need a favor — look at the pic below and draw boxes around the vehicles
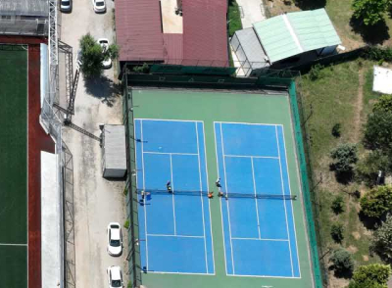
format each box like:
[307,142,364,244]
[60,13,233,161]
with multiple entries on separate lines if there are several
[59,0,72,13]
[92,0,106,14]
[107,225,123,256]
[98,41,113,68]
[108,266,124,288]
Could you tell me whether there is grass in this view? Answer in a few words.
Yes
